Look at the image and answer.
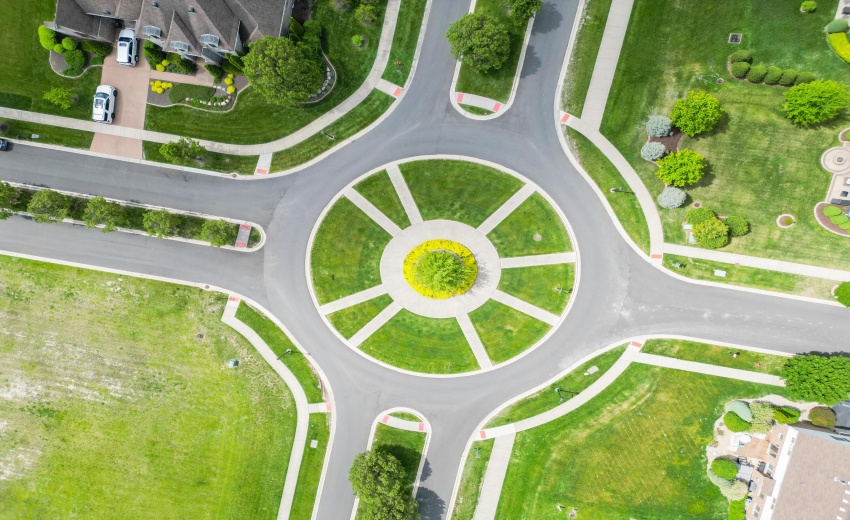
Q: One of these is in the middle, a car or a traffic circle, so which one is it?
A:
traffic circle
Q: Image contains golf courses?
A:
No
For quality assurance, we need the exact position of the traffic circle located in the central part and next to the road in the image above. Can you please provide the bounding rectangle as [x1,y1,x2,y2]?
[264,91,633,428]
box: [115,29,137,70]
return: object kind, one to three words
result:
car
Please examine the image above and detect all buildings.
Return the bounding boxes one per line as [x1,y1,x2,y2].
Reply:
[747,420,850,520]
[56,0,293,62]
